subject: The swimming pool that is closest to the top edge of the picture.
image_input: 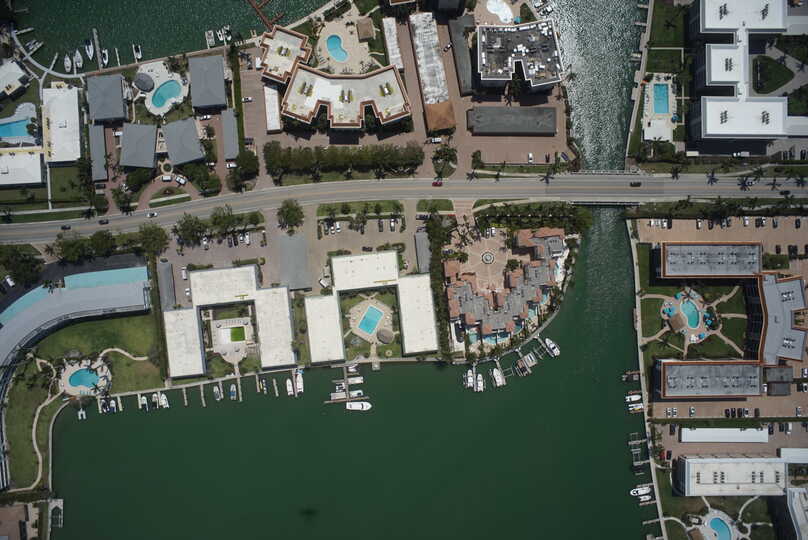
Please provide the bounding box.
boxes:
[486,0,513,23]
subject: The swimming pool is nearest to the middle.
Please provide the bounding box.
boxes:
[357,304,384,336]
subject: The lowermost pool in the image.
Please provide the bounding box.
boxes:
[709,516,733,540]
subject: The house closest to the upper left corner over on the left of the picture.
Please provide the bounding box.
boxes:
[0,58,34,99]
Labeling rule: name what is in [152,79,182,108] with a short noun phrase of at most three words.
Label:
swimming pool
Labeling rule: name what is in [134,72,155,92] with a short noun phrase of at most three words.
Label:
gazebo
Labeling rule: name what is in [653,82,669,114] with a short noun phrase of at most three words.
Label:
swimming pool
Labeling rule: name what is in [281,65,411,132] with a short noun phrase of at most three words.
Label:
building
